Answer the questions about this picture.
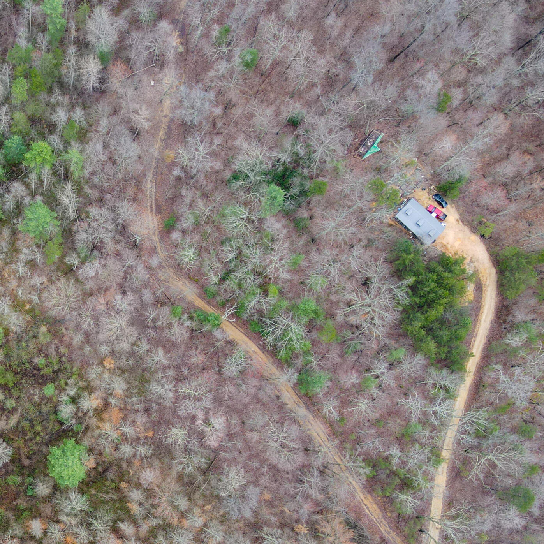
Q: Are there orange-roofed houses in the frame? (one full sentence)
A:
No, the photo shows no orange-roofed house.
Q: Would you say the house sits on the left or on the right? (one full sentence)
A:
The house appears in the right half of the scene.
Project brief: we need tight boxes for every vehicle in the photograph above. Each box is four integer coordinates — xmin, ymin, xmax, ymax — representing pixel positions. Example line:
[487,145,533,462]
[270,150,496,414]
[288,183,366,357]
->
[425,204,448,221]
[432,192,447,209]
